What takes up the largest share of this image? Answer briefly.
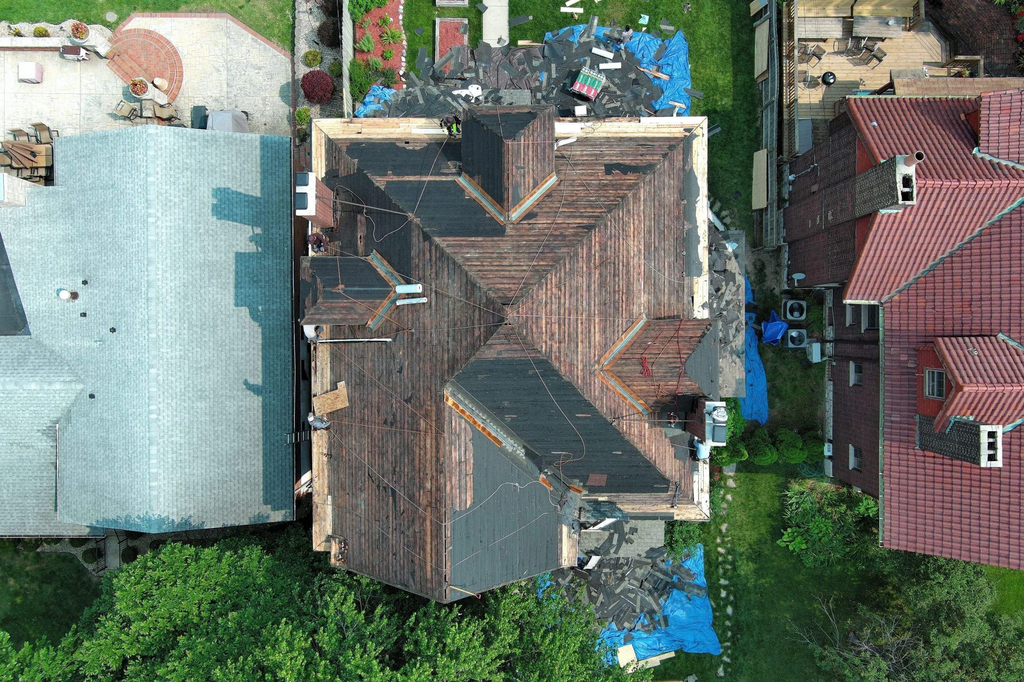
buildings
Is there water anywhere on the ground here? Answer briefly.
No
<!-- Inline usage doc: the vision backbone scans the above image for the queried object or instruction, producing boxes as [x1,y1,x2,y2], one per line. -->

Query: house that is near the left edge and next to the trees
[0,121,302,540]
